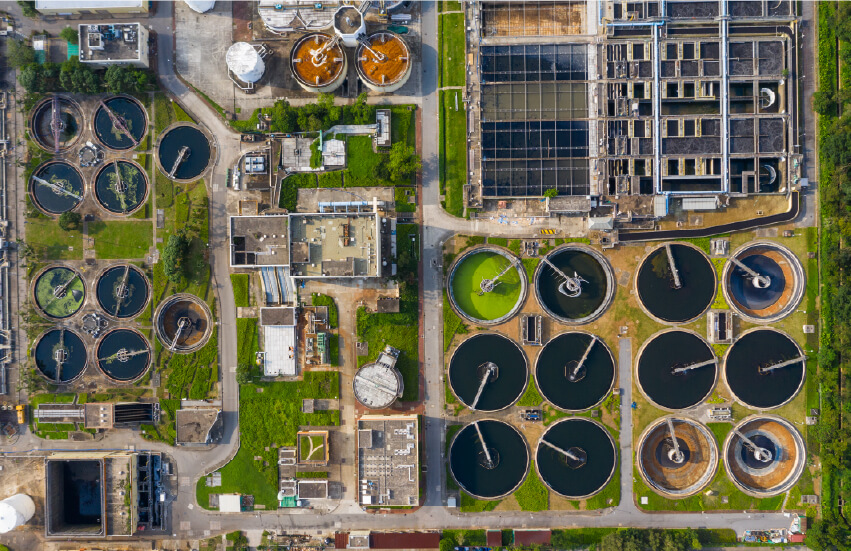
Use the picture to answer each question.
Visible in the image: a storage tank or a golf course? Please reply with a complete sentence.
There is a storage tank in the scene.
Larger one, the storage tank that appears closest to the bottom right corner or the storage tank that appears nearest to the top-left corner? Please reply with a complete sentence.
The storage tank that appears closest to the bottom right corner is larger than the storage tank that appears nearest to the top-left corner.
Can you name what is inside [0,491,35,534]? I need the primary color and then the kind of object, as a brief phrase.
white storage tank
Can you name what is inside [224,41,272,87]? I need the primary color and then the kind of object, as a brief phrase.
white storage tank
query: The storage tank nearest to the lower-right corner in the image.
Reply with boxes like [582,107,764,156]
[721,412,807,498]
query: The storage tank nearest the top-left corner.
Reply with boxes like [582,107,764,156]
[30,95,86,152]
